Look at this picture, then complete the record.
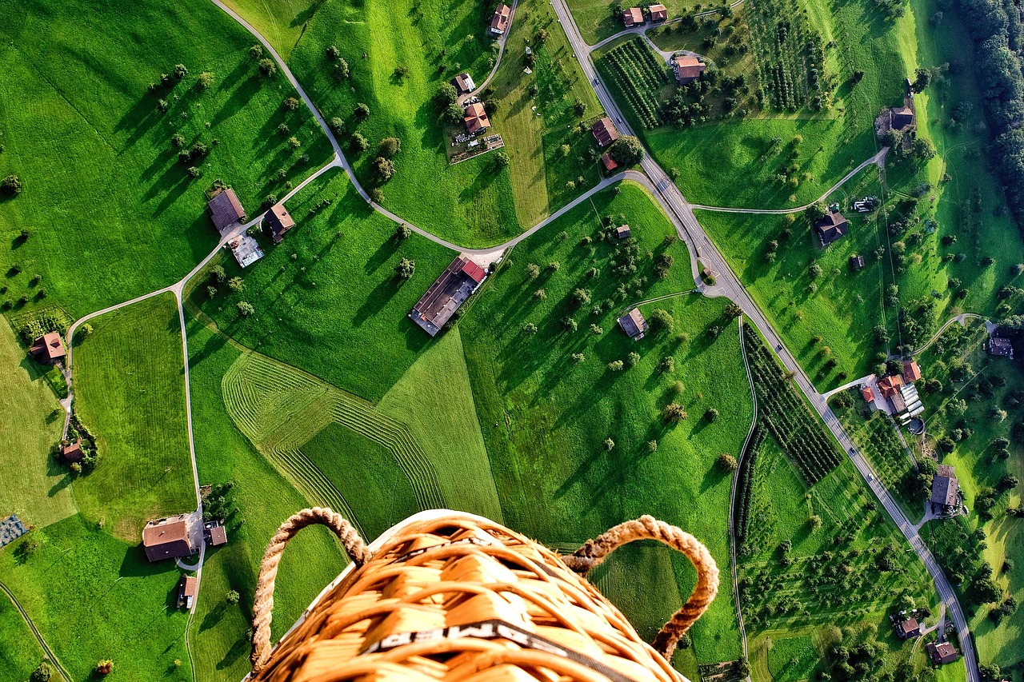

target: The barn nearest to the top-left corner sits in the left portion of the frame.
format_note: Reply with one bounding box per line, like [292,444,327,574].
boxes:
[206,188,247,233]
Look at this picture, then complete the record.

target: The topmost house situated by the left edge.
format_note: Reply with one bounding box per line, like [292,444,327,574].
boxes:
[28,331,67,362]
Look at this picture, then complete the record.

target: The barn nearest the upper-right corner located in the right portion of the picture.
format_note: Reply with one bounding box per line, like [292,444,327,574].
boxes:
[888,106,918,130]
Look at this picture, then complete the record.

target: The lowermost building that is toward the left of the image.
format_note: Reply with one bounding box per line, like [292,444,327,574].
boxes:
[180,575,199,598]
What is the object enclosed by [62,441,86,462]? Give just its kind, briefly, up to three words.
house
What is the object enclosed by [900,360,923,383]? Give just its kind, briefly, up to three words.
barn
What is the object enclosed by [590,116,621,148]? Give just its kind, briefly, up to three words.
barn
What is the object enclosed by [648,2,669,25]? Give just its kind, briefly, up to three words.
house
